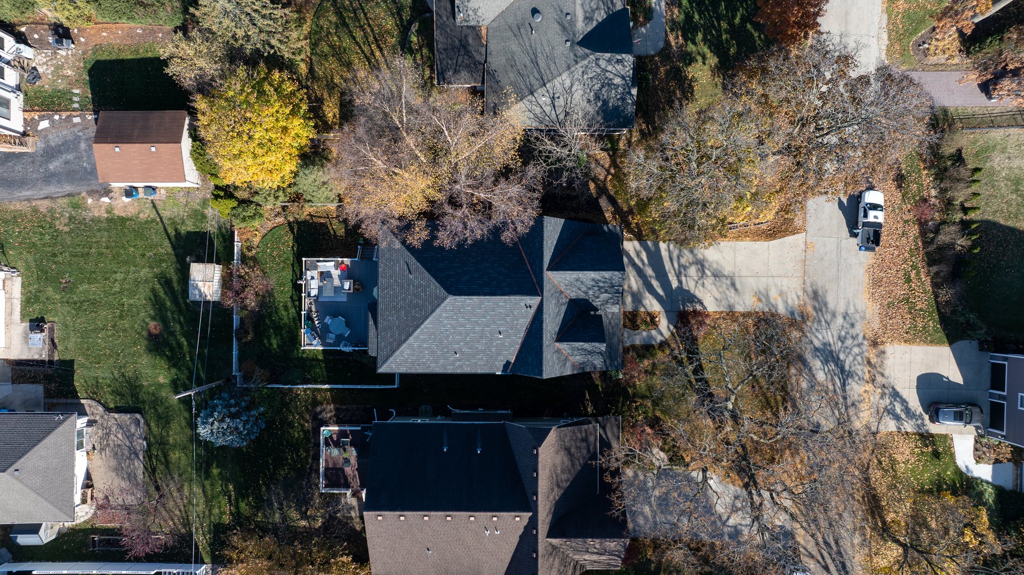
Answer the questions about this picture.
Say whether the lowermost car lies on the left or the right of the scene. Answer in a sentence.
The lowermost car sits on the right side.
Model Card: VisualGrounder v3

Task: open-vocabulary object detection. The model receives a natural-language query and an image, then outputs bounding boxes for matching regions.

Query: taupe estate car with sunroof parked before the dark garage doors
[931,404,987,429]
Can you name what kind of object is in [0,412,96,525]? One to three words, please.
house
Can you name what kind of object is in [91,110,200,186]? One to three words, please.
building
